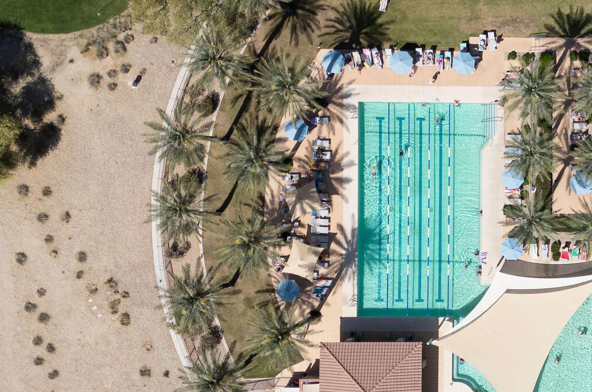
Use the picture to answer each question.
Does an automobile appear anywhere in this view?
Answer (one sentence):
No, there appears to be no automobile in this shot.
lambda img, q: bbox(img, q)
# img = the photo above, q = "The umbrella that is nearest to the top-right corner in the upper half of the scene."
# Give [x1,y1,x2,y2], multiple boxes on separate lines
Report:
[452,51,476,75]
